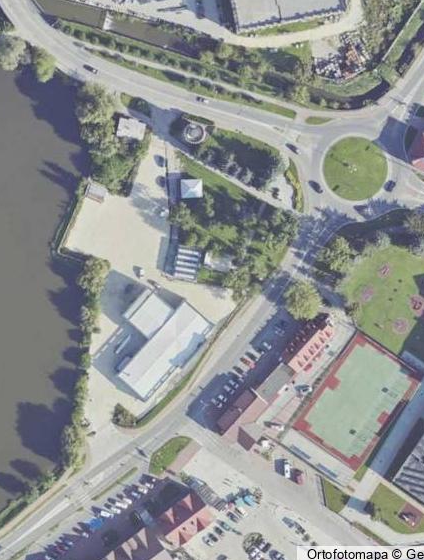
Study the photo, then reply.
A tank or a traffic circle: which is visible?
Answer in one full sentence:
The image shows a traffic circle.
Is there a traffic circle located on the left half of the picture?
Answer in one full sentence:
No, no traffic circle can be made out on the left half of the picture.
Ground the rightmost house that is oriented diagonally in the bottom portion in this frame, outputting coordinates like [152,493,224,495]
[280,315,338,374]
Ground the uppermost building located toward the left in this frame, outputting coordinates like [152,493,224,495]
[115,119,146,139]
